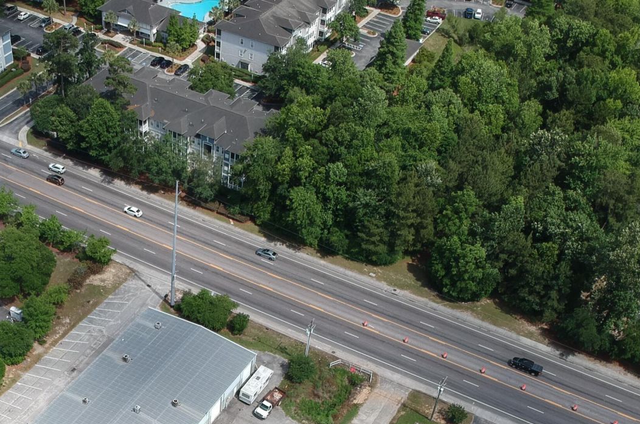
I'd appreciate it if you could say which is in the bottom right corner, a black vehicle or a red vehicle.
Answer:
black vehicle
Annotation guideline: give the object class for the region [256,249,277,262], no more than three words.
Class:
vehicle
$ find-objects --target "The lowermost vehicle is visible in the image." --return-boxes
[258,390,283,417]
